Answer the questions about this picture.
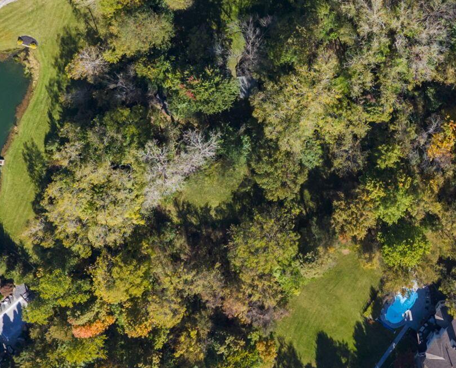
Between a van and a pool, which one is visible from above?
pool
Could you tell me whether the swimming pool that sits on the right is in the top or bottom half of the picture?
bottom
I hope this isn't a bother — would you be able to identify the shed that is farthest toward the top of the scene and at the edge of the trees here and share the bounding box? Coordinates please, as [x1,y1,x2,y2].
[238,74,258,97]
